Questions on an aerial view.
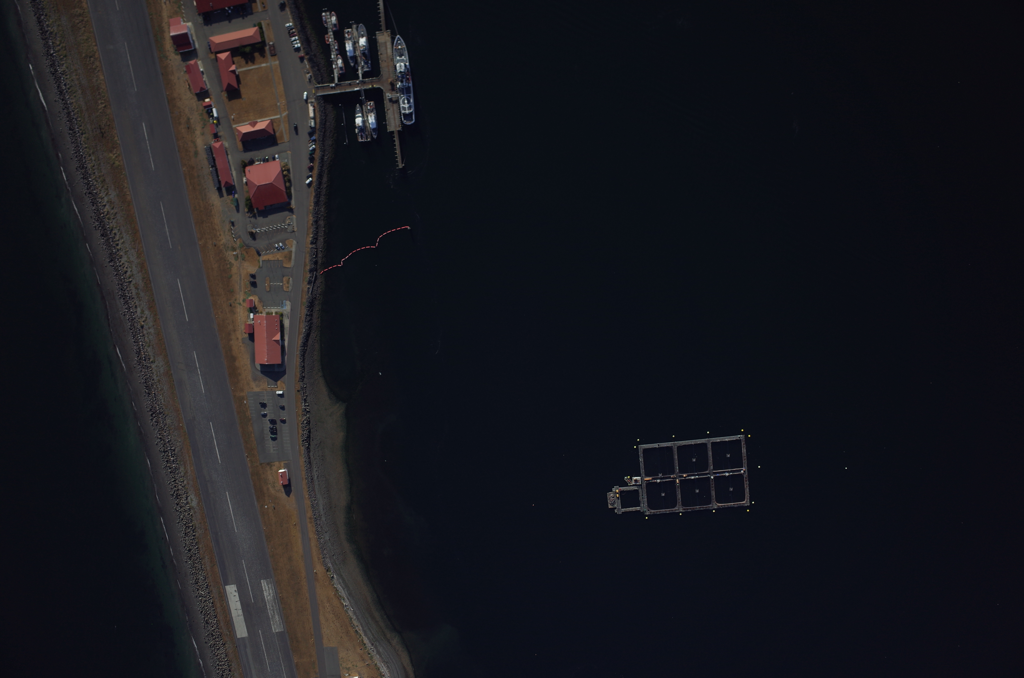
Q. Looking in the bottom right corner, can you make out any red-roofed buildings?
No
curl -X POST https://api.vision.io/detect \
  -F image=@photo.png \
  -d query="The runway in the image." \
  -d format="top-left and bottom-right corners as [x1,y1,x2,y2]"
[87,0,297,678]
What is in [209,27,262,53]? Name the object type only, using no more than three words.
building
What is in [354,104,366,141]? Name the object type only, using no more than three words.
boat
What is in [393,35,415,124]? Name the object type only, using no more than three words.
ship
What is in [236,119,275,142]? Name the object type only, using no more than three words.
house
